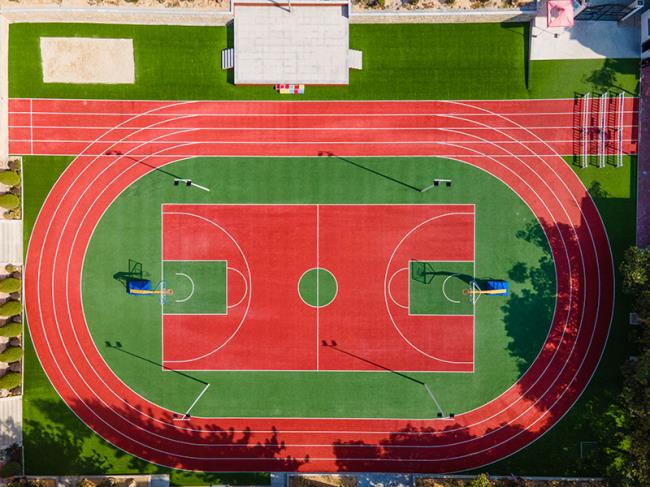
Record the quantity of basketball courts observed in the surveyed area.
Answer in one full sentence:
Only 1 basketball court is visible.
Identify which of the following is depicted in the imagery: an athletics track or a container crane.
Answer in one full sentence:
There is an athletics track in the scene.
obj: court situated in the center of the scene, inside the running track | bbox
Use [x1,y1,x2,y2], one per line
[162,204,475,373]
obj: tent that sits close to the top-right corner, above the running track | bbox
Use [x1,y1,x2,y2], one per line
[535,0,574,38]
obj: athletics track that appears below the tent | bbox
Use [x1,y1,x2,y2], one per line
[8,98,635,473]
